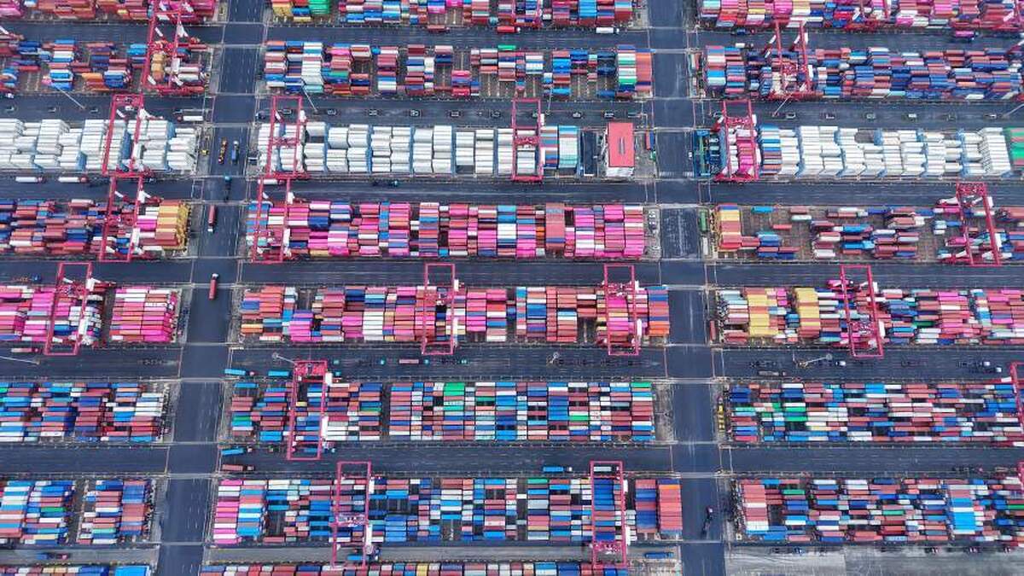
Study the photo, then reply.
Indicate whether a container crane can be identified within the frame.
Yes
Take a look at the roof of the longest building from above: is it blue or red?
red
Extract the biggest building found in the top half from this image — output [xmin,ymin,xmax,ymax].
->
[607,122,634,174]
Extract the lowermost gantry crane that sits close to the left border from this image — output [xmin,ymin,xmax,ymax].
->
[42,262,109,354]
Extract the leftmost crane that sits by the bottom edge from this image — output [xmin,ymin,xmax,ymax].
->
[331,462,382,567]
